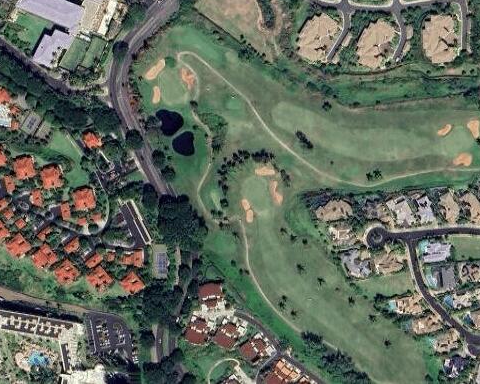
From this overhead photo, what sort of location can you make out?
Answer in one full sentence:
It's a golf course.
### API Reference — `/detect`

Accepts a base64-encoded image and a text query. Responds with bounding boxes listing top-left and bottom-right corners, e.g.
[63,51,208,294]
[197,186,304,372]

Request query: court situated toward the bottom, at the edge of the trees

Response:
[153,242,170,279]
